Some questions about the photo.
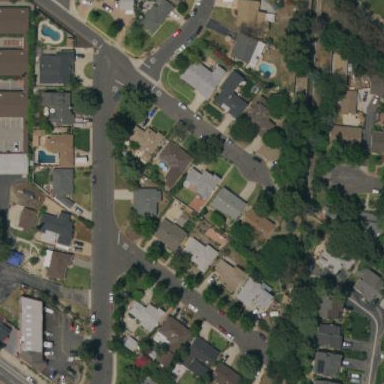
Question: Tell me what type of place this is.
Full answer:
The picture captures a residential area.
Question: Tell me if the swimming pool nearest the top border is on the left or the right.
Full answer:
The swimming pool nearest the top border appears in the left half of the scene.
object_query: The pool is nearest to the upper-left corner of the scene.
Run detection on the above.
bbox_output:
[38,21,64,44]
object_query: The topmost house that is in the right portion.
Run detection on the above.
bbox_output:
[238,0,276,30]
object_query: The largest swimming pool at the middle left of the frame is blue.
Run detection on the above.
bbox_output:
[38,149,55,164]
